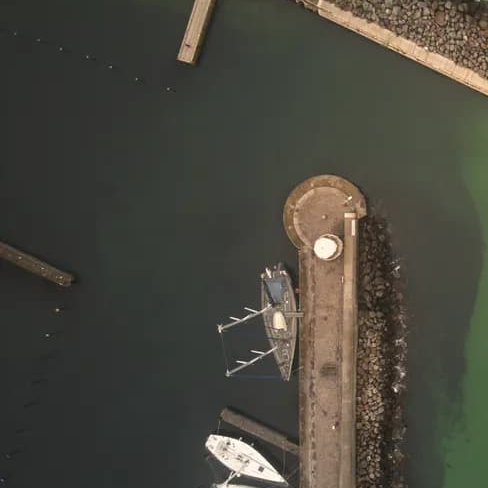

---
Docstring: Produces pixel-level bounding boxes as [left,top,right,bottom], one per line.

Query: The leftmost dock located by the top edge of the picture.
[177,0,218,65]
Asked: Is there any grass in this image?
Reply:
No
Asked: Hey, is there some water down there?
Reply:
Yes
